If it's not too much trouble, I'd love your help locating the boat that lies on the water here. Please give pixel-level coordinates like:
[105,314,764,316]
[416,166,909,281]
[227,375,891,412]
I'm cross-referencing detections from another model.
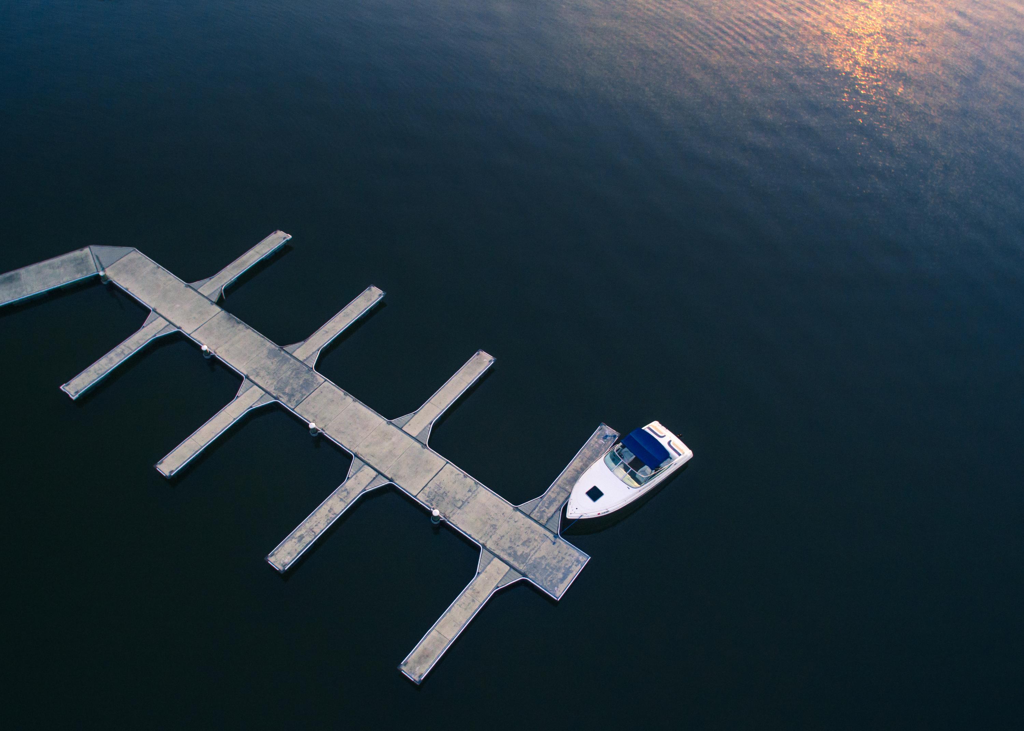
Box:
[565,421,692,520]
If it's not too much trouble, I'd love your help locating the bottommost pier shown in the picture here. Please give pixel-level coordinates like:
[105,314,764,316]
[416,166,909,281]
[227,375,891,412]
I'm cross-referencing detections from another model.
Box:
[398,544,529,687]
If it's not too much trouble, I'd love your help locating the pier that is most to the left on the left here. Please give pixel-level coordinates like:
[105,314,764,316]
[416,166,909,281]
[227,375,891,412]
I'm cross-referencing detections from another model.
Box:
[60,309,182,402]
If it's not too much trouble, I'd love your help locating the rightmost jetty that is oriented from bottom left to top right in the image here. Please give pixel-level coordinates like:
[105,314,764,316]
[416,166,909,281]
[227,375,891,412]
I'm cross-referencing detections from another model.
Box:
[512,423,620,539]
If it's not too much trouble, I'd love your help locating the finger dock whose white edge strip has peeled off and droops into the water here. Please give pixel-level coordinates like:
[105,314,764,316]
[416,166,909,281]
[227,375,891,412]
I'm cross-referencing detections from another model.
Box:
[186,231,292,306]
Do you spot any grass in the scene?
No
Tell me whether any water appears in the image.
Yes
